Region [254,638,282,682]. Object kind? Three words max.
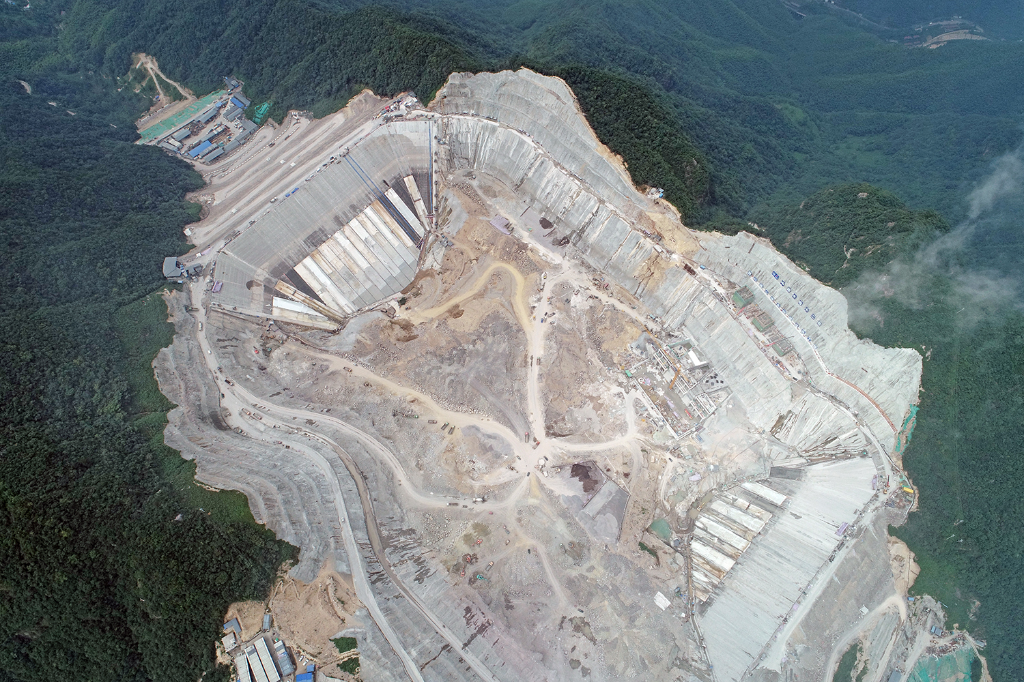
shed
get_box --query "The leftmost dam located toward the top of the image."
[180,88,438,332]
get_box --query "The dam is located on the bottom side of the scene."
[689,455,918,682]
